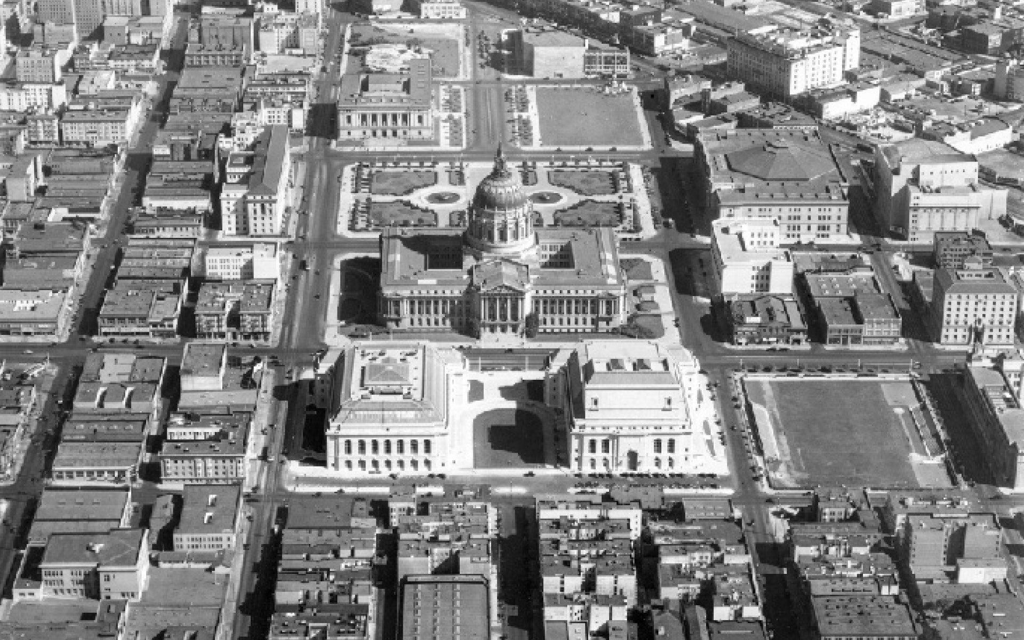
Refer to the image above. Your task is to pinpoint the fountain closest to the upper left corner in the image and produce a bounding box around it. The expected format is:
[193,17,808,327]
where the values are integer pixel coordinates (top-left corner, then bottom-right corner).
[427,190,460,202]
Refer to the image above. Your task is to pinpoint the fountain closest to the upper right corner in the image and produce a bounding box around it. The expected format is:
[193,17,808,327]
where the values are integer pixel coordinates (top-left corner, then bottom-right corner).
[530,191,561,203]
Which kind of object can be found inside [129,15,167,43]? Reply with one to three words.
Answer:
building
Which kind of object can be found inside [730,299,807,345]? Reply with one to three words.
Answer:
house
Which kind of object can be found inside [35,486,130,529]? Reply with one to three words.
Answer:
building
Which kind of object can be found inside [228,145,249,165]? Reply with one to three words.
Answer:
house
